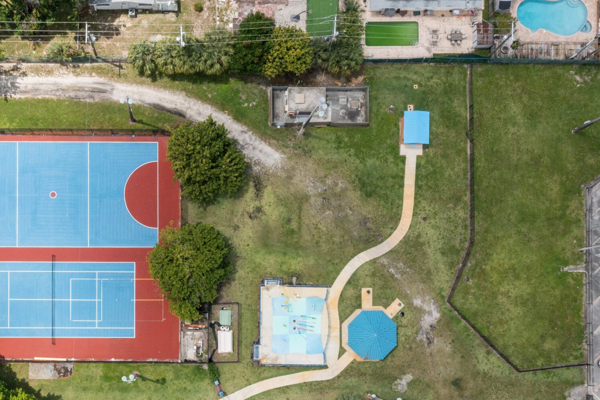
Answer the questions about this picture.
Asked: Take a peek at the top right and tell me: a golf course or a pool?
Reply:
pool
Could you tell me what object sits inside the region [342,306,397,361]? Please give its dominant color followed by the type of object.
blue gazebo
